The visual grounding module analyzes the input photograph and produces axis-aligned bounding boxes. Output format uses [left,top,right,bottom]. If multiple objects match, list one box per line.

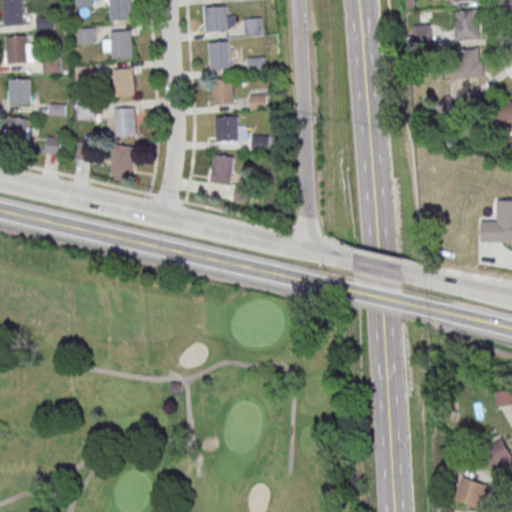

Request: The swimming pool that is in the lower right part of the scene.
[473,402,489,421]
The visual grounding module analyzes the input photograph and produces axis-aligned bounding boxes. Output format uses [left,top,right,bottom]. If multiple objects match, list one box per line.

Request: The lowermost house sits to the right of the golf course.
[456,477,486,508]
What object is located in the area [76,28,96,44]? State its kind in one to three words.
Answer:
building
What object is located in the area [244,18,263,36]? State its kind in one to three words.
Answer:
building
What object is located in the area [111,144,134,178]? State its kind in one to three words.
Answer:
house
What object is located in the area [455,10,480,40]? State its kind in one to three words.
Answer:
house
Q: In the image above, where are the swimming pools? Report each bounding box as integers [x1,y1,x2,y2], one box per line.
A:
[78,6,93,20]
[473,402,489,421]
